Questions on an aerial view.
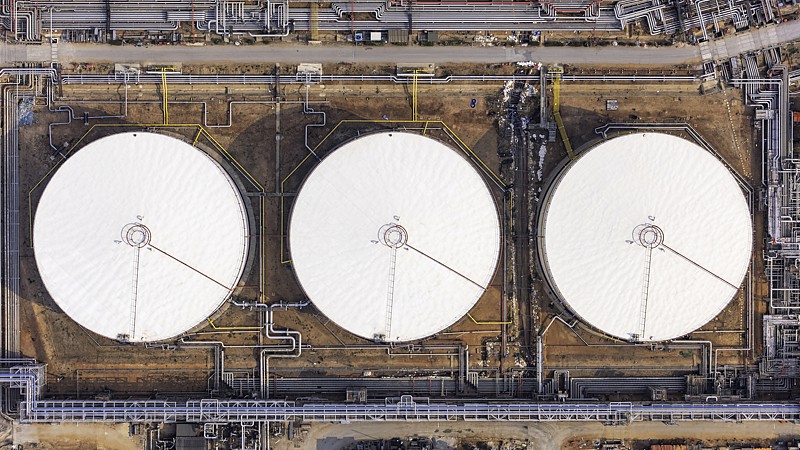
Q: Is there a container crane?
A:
No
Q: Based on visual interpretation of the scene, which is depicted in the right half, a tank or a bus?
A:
tank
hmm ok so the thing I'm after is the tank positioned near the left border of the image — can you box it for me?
[33,129,253,343]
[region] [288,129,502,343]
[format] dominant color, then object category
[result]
white storage tank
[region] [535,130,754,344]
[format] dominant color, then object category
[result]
white storage tank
